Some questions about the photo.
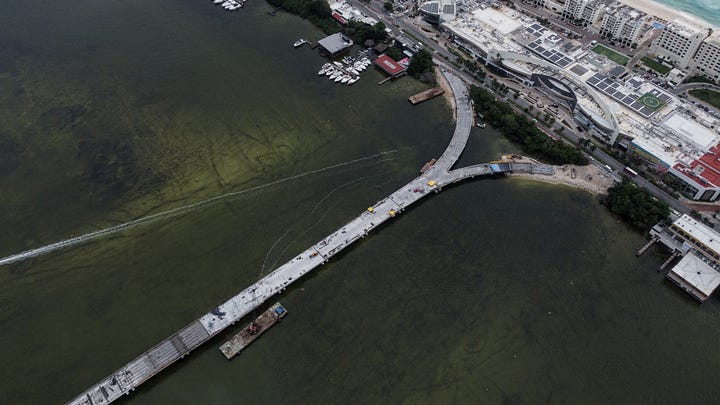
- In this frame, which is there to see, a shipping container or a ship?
ship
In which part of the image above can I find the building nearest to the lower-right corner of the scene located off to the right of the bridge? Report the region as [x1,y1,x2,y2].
[660,254,720,311]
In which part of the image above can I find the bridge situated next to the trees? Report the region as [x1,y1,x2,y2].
[63,70,555,405]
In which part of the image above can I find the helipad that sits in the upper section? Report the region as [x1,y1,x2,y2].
[635,92,667,113]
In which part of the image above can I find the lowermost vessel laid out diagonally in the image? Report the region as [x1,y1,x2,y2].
[219,302,288,359]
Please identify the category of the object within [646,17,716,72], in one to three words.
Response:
building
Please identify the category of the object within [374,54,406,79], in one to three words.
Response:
building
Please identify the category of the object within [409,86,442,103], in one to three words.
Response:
ship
